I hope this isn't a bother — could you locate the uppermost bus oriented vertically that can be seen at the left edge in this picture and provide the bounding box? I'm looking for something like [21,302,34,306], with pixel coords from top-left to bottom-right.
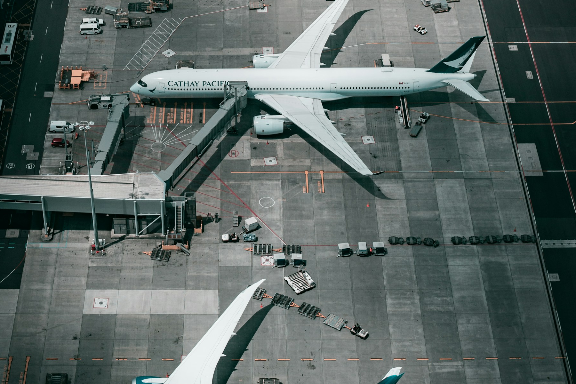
[0,23,20,68]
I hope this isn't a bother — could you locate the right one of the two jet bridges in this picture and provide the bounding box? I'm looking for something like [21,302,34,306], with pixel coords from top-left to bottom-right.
[158,77,247,213]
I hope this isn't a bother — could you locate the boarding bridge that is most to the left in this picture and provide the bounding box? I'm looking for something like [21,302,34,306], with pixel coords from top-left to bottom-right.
[84,92,133,174]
